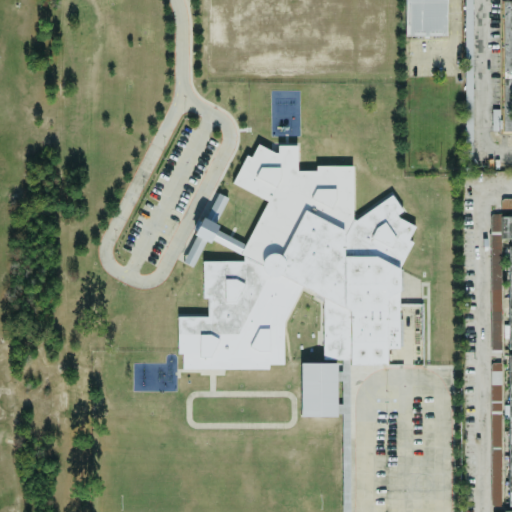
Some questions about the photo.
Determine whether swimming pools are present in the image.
No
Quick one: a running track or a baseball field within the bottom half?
running track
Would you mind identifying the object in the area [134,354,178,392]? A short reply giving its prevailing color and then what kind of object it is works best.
blue playground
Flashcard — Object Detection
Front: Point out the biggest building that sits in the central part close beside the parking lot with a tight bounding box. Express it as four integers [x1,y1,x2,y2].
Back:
[178,144,418,370]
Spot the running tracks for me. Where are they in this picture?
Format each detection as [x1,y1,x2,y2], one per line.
[186,391,298,429]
